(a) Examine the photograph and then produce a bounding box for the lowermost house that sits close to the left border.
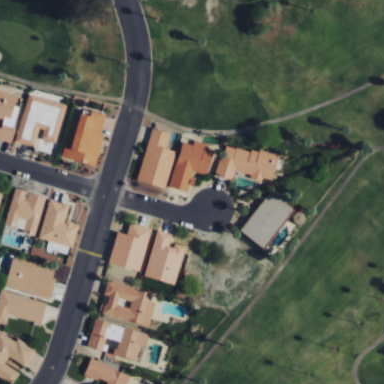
[0,330,34,382]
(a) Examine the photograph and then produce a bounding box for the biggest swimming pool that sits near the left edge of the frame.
[2,234,23,246]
